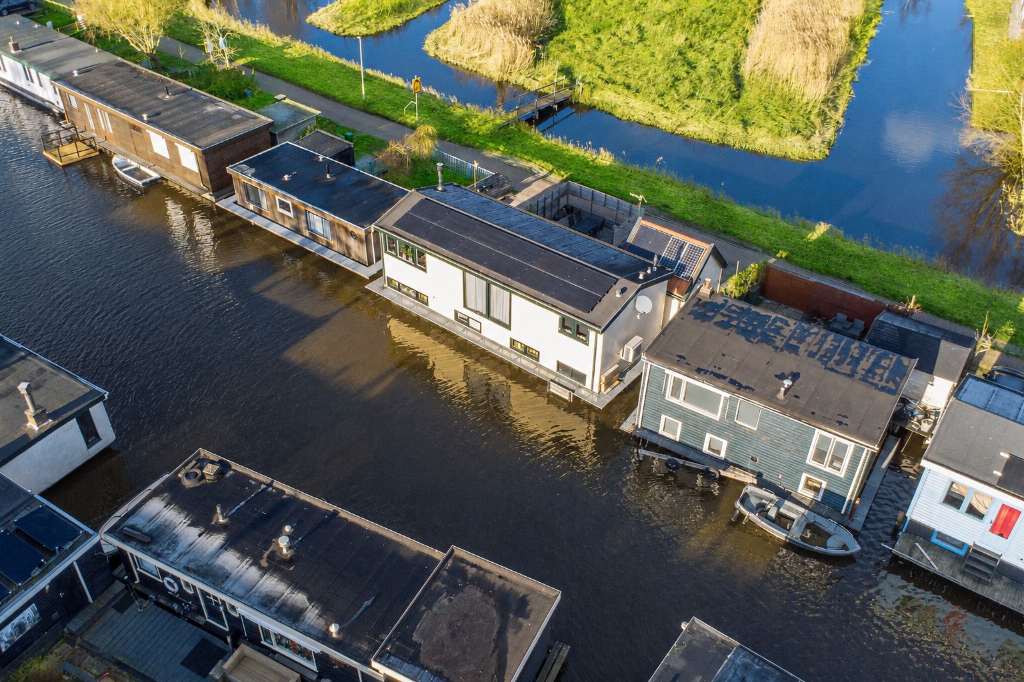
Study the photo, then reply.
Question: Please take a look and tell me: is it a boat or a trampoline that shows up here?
boat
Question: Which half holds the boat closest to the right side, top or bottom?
bottom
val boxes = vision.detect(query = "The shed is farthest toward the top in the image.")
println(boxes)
[256,93,326,141]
